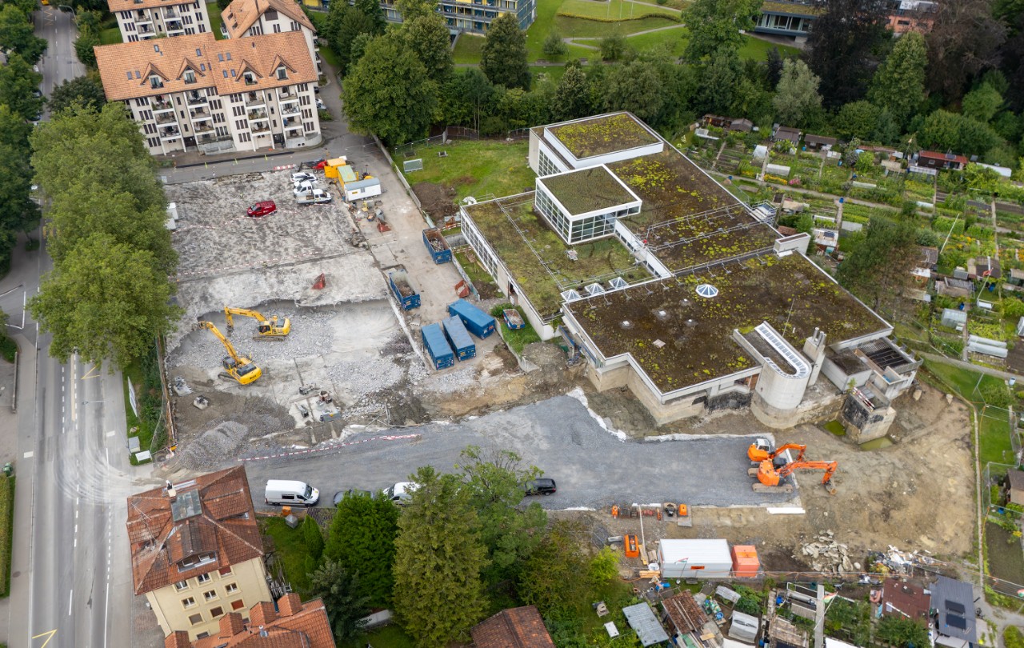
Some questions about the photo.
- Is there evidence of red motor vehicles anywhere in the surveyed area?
Yes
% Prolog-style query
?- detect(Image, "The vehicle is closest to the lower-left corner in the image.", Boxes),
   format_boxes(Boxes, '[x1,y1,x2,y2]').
[262,485,319,512]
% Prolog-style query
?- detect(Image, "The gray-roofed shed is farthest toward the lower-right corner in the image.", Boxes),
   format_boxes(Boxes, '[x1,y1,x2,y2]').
[916,575,992,648]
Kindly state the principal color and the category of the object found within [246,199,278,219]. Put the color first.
red vehicle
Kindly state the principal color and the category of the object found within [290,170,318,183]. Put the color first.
white vehicle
